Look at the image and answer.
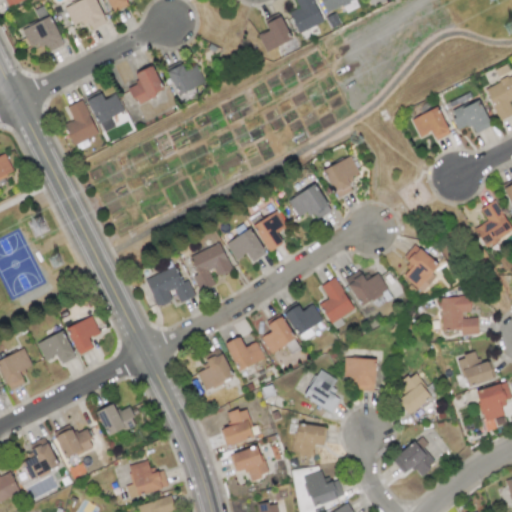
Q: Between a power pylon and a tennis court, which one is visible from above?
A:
power pylon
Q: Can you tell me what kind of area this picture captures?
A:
residential area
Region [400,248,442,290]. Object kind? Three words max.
house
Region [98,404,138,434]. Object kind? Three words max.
house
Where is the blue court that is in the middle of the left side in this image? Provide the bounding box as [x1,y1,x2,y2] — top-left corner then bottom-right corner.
[0,228,46,299]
